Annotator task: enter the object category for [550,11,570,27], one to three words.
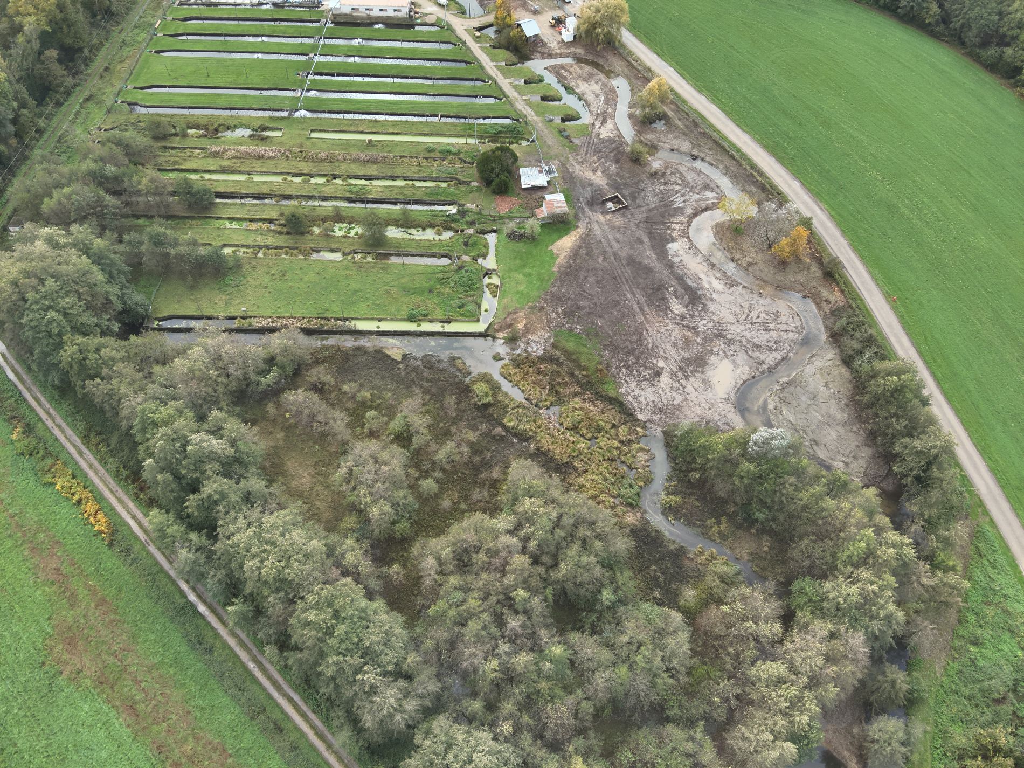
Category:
work vehicle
